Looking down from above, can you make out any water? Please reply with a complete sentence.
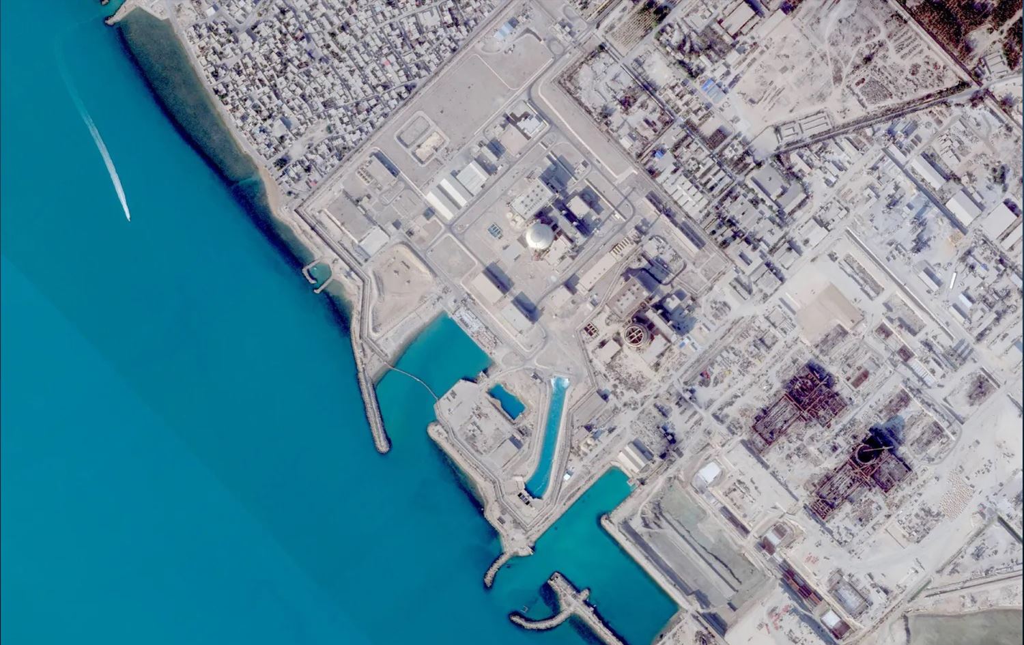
Yes, water shows up in the scene.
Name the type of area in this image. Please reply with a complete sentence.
It's a residential area.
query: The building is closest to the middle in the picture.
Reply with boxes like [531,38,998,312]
[502,301,532,332]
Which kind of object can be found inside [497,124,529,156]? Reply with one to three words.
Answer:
building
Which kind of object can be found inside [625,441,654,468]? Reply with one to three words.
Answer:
shed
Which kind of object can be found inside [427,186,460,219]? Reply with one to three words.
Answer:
shed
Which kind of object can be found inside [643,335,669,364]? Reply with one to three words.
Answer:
building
